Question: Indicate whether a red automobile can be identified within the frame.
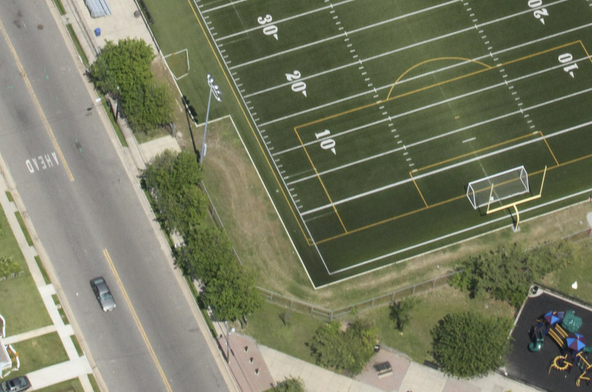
No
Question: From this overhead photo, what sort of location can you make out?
sports ground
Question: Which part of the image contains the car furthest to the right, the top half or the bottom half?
bottom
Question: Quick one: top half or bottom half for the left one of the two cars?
bottom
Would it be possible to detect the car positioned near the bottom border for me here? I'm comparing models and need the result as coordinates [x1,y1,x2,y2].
[0,372,33,392]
